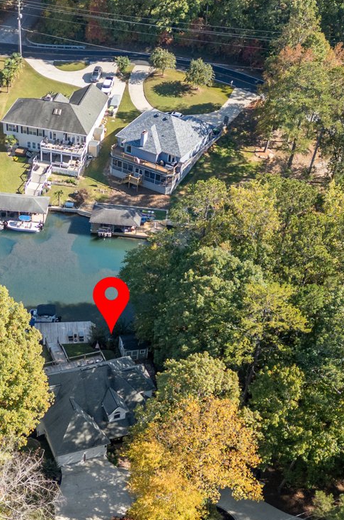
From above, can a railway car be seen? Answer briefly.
No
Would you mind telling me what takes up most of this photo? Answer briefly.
trees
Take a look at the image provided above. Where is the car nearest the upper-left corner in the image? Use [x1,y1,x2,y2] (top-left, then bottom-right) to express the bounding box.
[90,63,103,78]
